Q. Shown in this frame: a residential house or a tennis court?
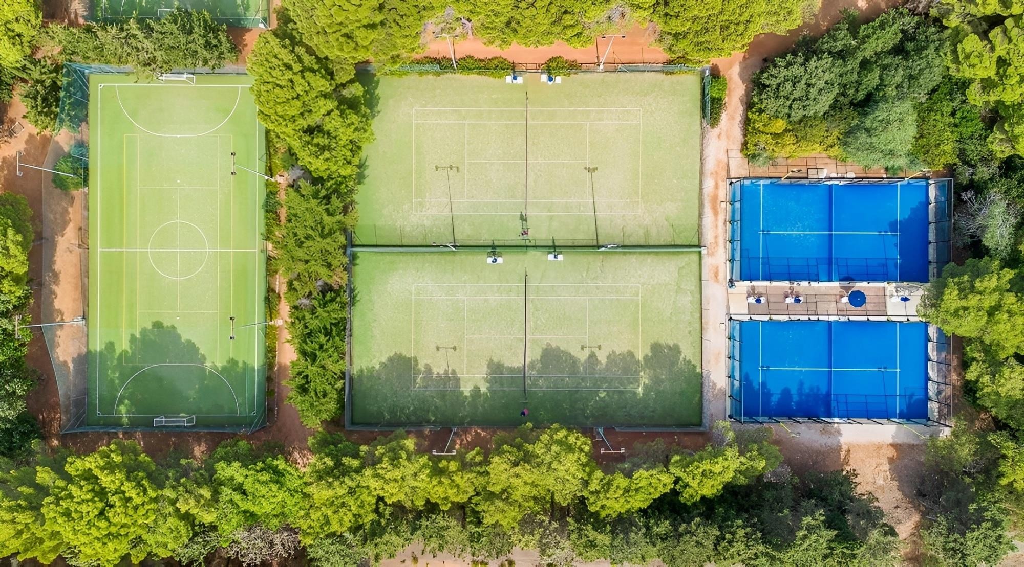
tennis court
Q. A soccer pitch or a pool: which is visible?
soccer pitch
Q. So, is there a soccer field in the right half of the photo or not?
No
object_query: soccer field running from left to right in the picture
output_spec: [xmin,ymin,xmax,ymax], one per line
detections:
[93,0,269,24]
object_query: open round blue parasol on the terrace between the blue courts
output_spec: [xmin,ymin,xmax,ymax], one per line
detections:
[846,290,866,307]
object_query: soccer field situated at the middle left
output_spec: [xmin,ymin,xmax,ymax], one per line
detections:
[86,74,267,427]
